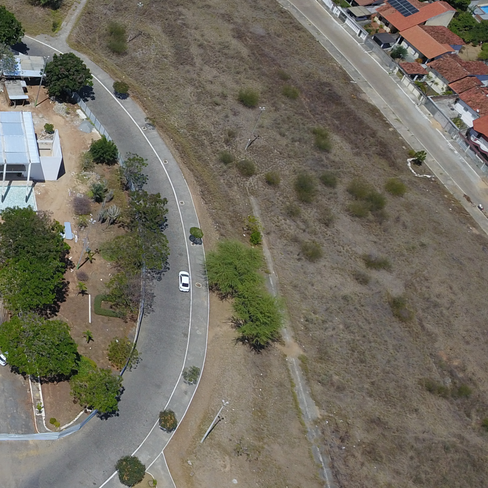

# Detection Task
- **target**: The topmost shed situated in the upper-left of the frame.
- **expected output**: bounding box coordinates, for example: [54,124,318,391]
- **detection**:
[1,55,46,85]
